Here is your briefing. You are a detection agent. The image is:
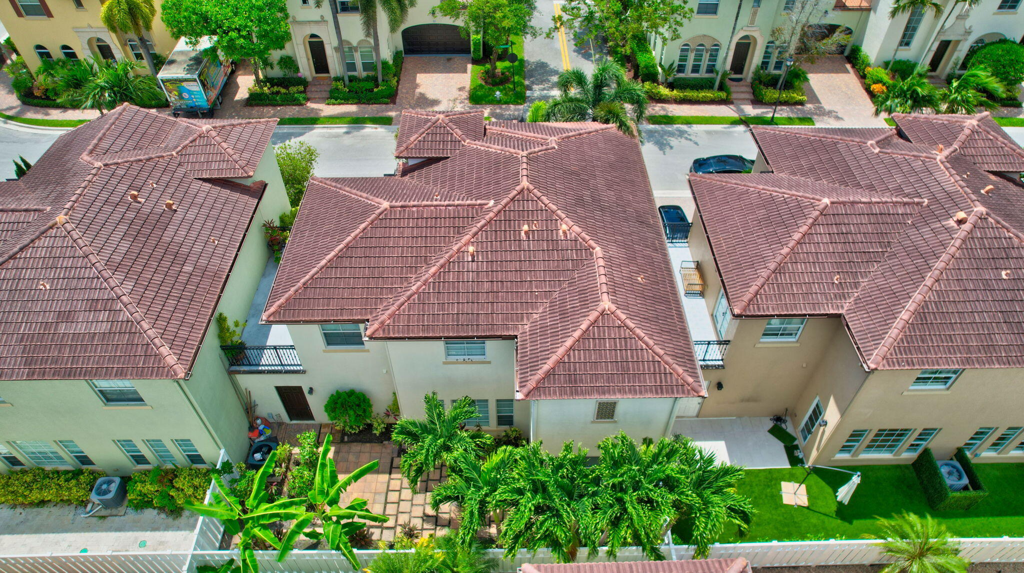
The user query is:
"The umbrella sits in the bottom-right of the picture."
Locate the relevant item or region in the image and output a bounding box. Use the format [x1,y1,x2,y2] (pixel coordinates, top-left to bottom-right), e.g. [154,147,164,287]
[780,461,857,508]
